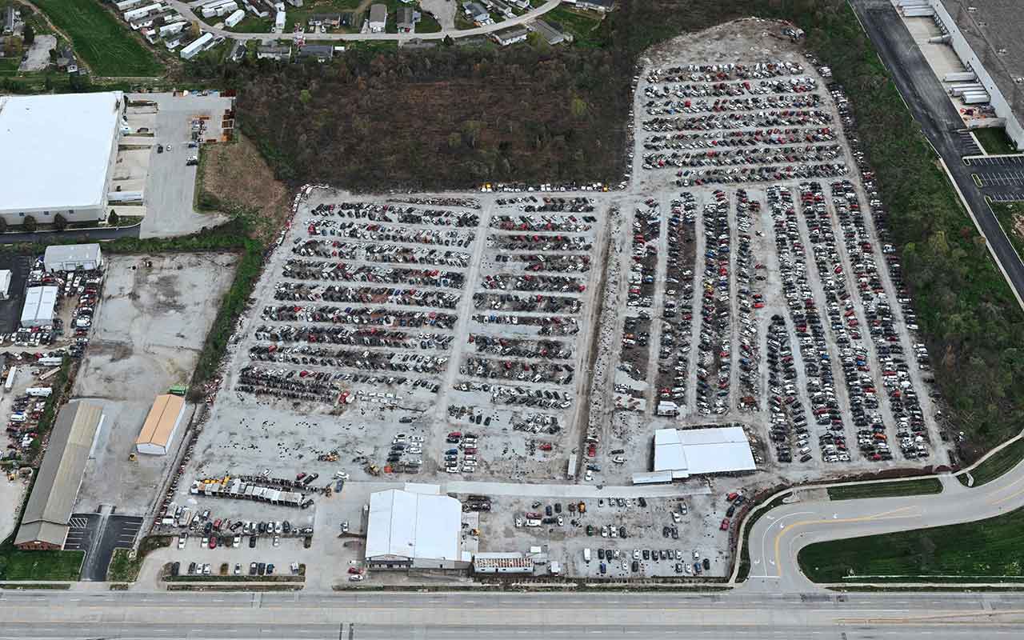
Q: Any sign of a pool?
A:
No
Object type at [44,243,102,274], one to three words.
barn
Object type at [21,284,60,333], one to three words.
shed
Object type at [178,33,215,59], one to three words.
house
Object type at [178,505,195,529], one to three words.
vehicle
